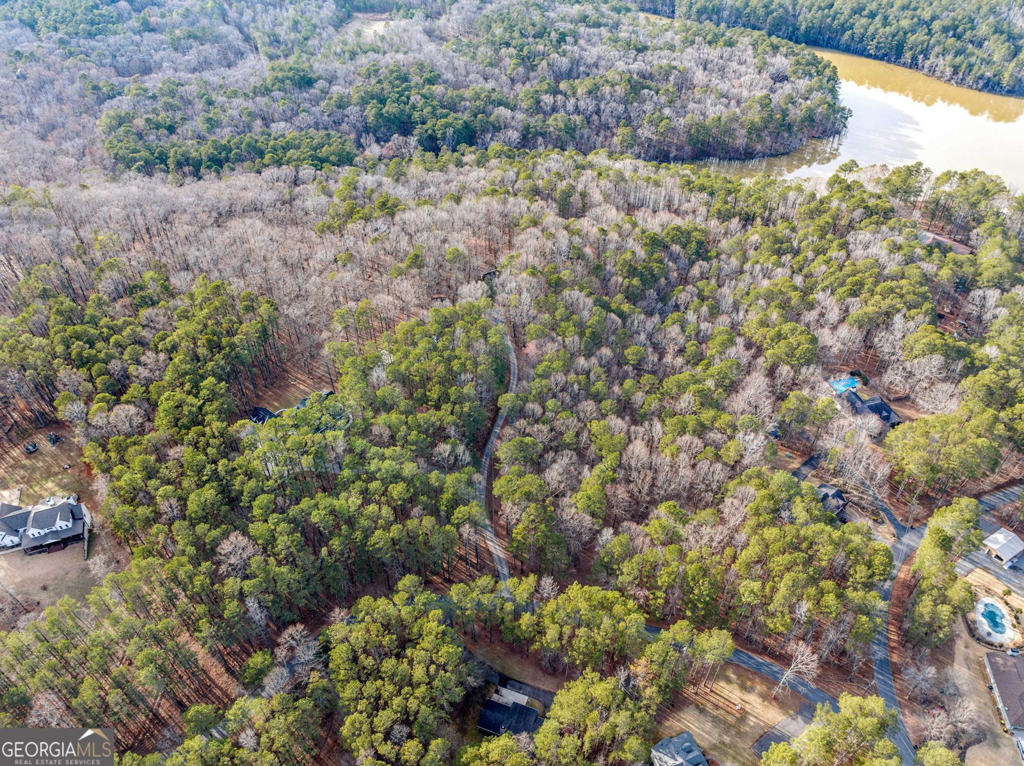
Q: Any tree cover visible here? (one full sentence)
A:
Yes, some tree cover is visible.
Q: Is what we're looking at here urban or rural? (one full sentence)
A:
This place is rural.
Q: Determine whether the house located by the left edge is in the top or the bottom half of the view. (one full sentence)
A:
The house located by the left edge sits in the bottom half of the picture.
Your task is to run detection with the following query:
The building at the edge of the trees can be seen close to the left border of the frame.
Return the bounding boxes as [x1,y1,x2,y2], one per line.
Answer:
[0,488,97,565]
